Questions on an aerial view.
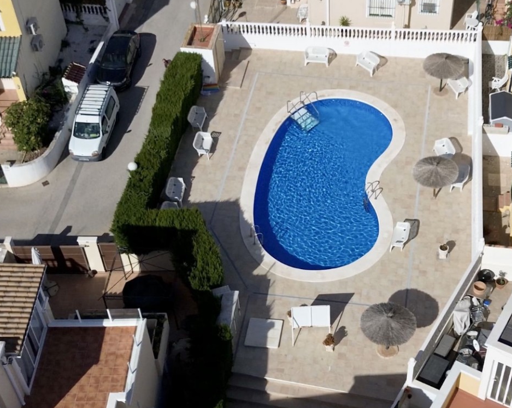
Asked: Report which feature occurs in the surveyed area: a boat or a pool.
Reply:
pool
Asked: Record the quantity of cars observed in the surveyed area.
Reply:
2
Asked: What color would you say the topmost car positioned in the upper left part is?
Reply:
black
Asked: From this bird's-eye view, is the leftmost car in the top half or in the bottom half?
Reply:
top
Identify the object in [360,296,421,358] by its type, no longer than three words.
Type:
umbrella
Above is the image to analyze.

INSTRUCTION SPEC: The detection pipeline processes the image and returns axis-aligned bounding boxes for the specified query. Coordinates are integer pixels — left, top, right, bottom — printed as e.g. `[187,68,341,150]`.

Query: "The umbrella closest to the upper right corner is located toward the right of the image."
[421,47,468,95]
